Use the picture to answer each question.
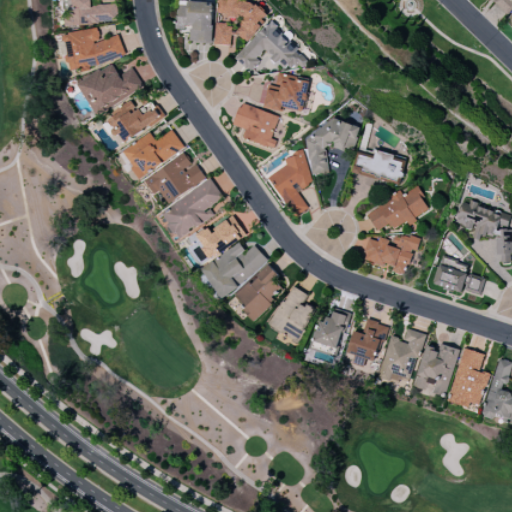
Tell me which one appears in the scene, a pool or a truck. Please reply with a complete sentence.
This aerial view contains a pool.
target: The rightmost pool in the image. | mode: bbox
[469,184,496,200]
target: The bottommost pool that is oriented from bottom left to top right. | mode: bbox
[262,151,290,174]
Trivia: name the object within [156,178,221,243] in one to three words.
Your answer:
house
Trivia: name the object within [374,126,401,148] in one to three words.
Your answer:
swimming pool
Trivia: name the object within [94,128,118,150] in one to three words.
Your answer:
swimming pool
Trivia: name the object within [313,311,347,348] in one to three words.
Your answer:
house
